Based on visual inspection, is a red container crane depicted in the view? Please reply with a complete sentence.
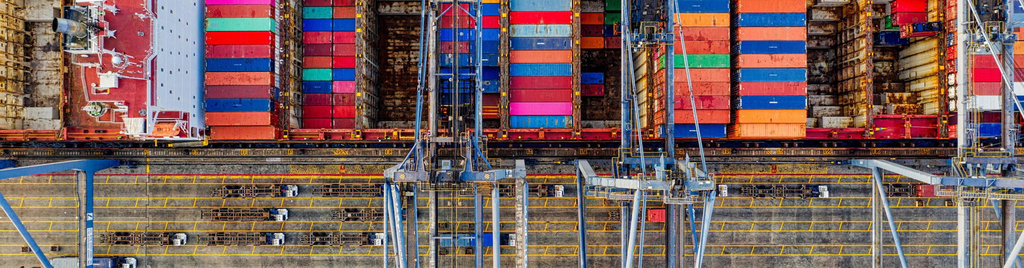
No, no red container crane can be seen from above.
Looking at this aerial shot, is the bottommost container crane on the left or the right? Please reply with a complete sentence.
The bottommost container crane is on the left side of the image.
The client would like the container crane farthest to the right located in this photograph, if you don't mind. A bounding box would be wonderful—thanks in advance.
[818,0,1024,268]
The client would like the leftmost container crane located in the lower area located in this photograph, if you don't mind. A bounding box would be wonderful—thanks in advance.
[0,159,149,268]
